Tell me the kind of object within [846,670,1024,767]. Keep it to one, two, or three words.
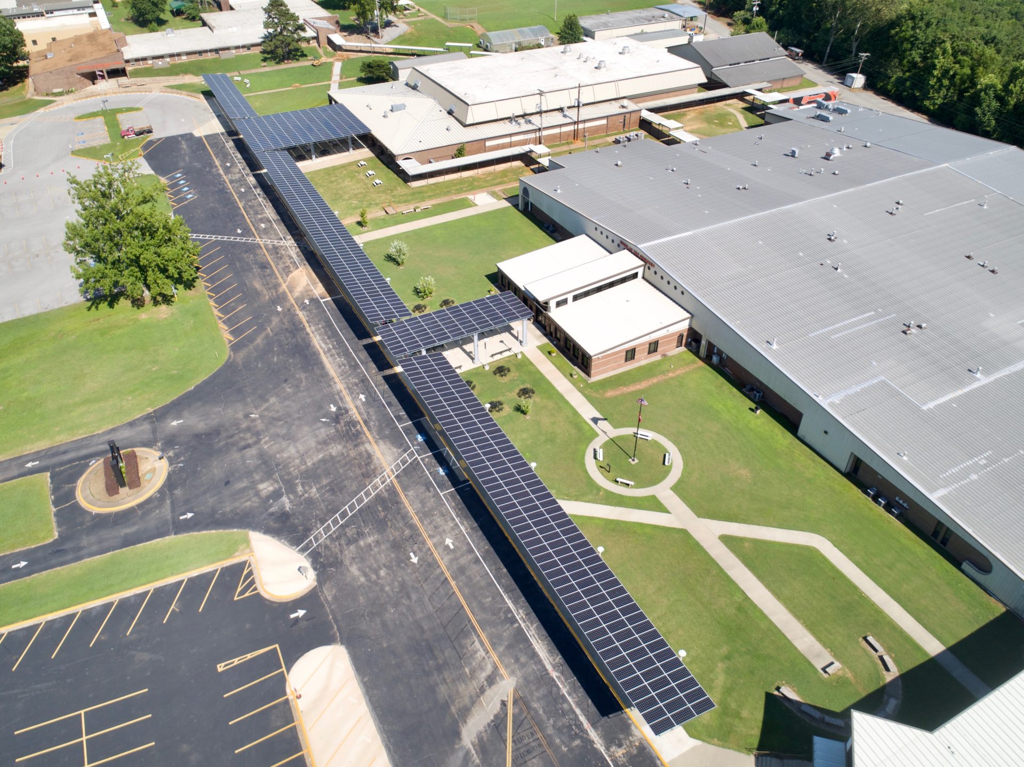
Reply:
building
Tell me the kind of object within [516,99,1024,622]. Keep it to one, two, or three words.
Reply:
building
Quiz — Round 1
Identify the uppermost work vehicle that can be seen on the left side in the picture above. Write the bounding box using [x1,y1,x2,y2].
[311,53,331,65]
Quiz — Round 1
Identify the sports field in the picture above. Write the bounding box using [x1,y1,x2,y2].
[328,0,682,47]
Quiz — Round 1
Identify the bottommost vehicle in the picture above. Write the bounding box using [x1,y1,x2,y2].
[118,122,152,138]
